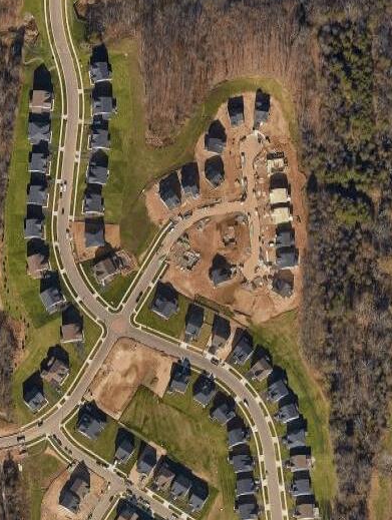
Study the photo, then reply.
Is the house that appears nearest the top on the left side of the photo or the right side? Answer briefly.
left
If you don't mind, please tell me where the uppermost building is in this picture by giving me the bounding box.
[90,58,110,80]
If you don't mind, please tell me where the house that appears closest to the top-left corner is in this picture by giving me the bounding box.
[28,87,52,108]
